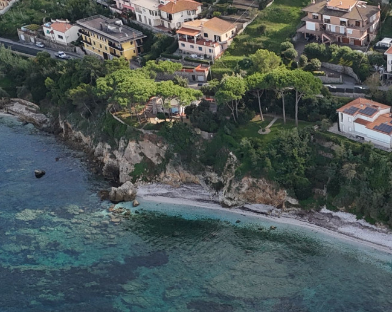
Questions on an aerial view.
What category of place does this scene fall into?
residential area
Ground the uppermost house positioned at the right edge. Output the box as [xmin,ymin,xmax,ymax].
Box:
[298,0,387,48]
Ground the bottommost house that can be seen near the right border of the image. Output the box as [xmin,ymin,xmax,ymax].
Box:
[335,99,392,151]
